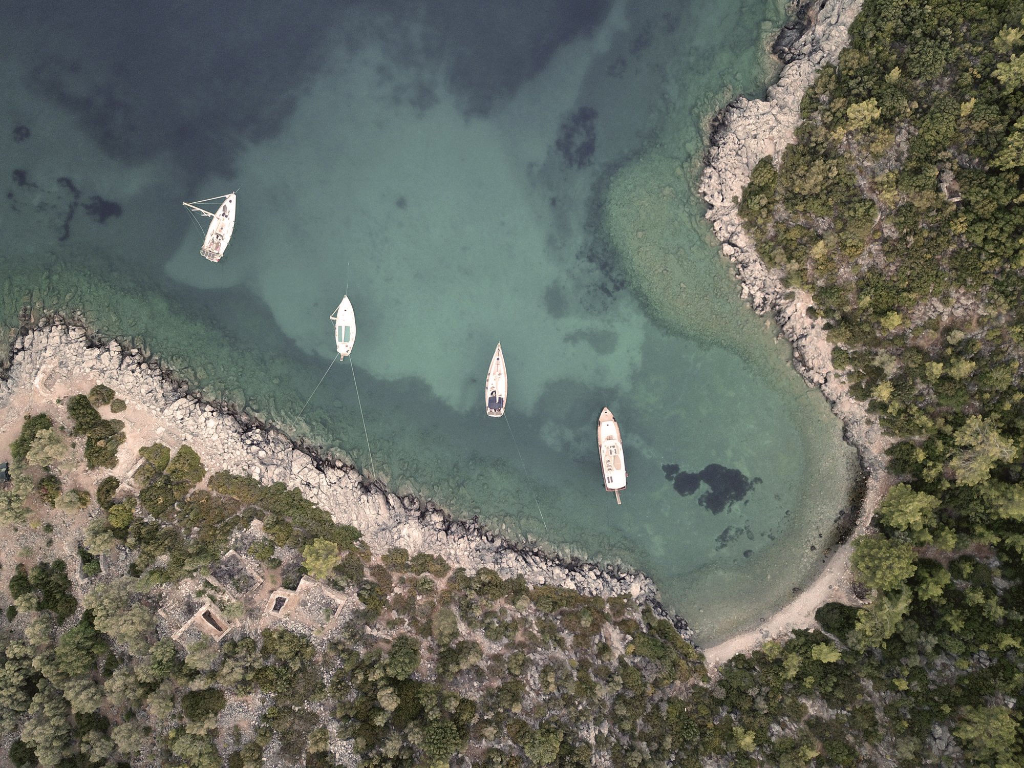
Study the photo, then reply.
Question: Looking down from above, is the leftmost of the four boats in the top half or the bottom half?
top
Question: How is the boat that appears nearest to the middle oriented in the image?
up and down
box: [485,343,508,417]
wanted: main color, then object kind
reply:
white boat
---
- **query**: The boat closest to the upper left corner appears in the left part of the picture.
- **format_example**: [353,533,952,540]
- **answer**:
[183,191,238,262]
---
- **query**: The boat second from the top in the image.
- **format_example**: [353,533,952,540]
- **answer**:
[329,295,356,361]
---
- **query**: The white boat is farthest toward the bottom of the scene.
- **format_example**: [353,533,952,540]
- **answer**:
[598,406,628,504]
